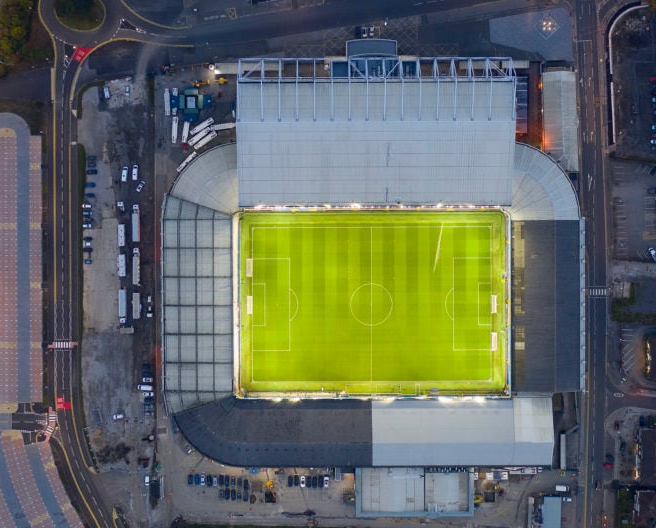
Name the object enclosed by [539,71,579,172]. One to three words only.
building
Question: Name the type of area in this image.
sports ground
